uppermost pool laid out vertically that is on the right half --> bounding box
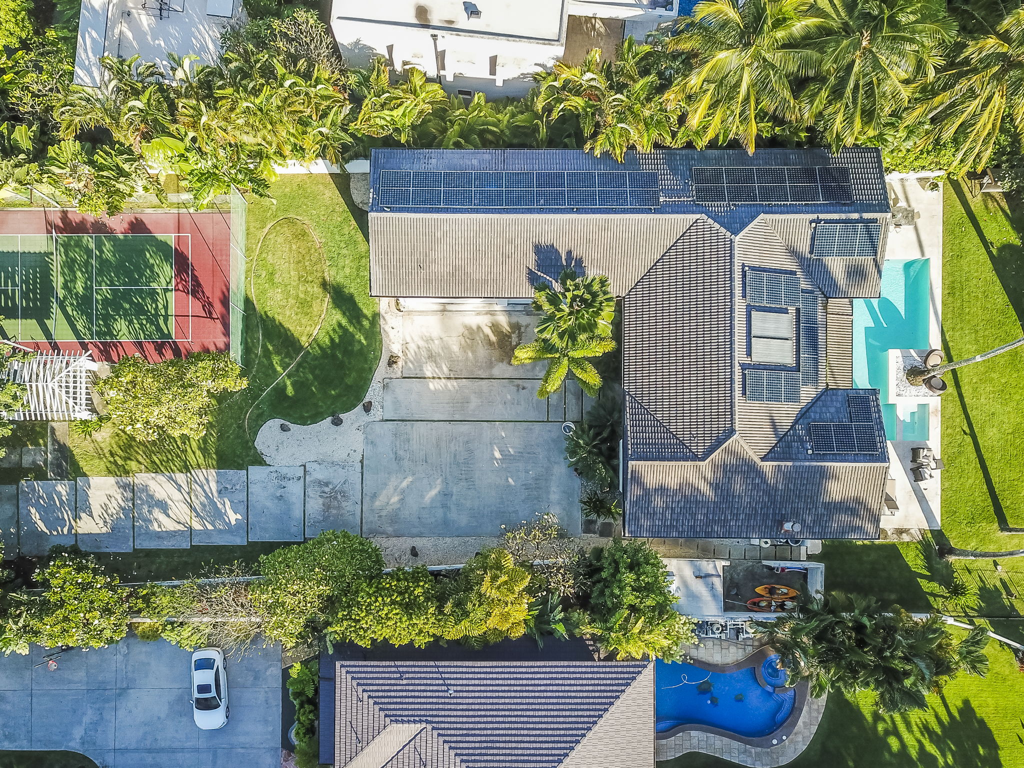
[853,258,931,440]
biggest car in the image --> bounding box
[185,649,229,734]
